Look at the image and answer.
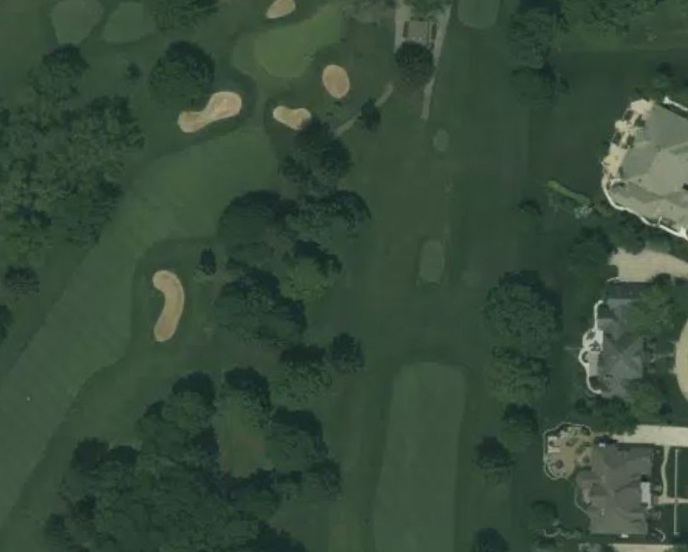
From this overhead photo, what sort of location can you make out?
golf course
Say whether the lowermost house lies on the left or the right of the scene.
right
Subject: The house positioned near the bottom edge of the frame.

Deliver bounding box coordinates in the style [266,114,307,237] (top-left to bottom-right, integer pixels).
[575,443,653,534]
